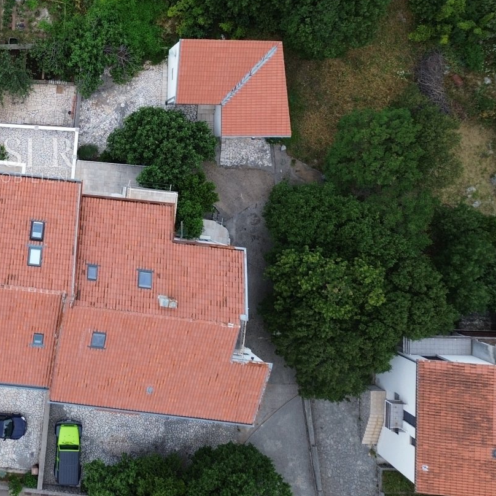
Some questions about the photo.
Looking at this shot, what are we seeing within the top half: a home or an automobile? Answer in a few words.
home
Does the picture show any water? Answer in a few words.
No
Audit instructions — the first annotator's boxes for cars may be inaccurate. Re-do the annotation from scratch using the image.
[0,410,28,441]
[53,423,84,489]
